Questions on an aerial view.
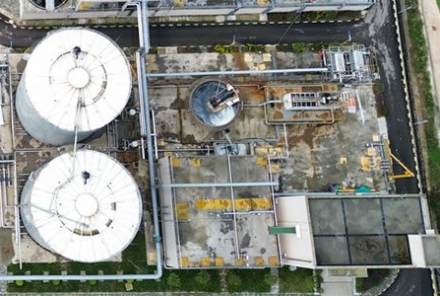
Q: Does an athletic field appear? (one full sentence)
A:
No, the photo shows no athletic field.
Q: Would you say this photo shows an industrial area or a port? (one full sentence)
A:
The area seen from above is an industrial area.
